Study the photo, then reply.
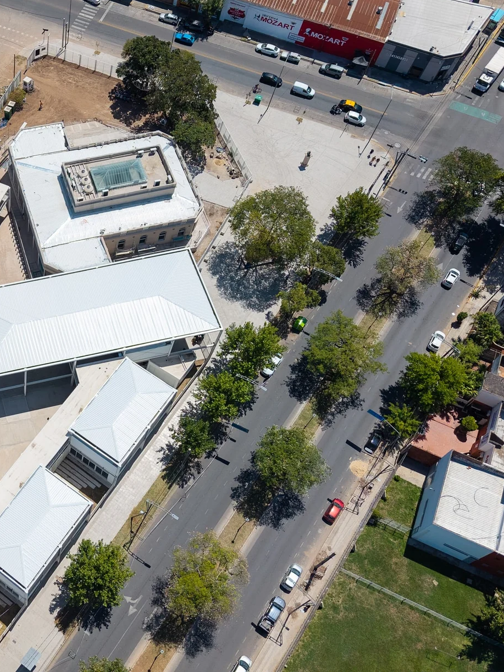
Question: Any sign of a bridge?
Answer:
No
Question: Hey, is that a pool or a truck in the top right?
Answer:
truck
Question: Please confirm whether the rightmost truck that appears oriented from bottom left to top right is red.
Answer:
No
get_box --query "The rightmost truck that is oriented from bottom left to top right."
[472,46,504,96]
